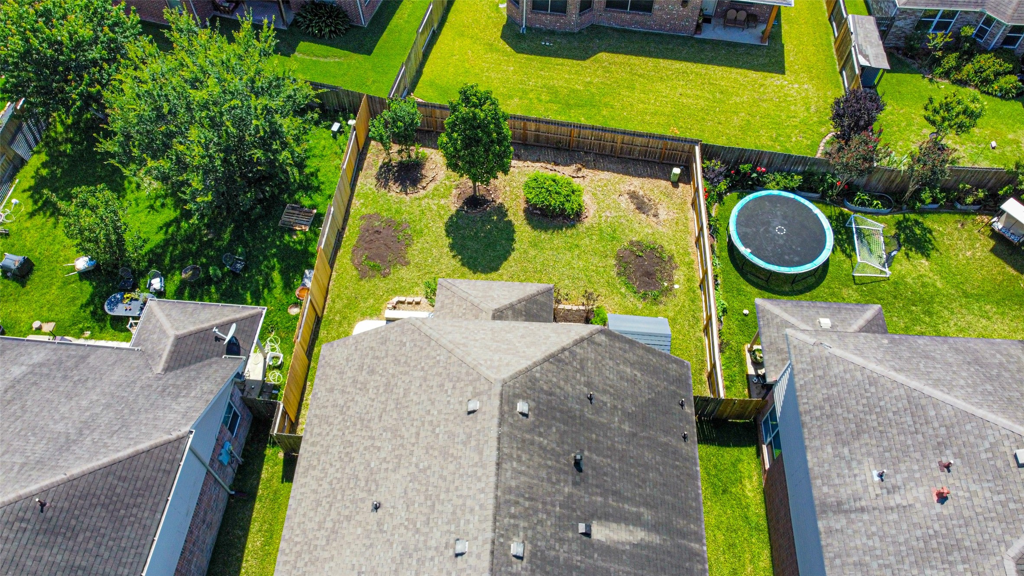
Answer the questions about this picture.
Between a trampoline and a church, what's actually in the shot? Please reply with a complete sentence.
I can see a trampoline in this picture.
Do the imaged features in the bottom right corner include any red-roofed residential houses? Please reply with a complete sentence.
No, in the bottom right corner there is no red-roofed residential house.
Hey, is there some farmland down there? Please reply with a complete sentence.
No, no farmland is visible.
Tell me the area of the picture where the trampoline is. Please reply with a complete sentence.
The trampoline is located in the right region of the scene.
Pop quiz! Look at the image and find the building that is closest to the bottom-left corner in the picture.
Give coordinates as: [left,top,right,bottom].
[0,296,271,576]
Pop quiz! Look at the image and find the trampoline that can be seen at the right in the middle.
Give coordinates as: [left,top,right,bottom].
[727,193,835,285]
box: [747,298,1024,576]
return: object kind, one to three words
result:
house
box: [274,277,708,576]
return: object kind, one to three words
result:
house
